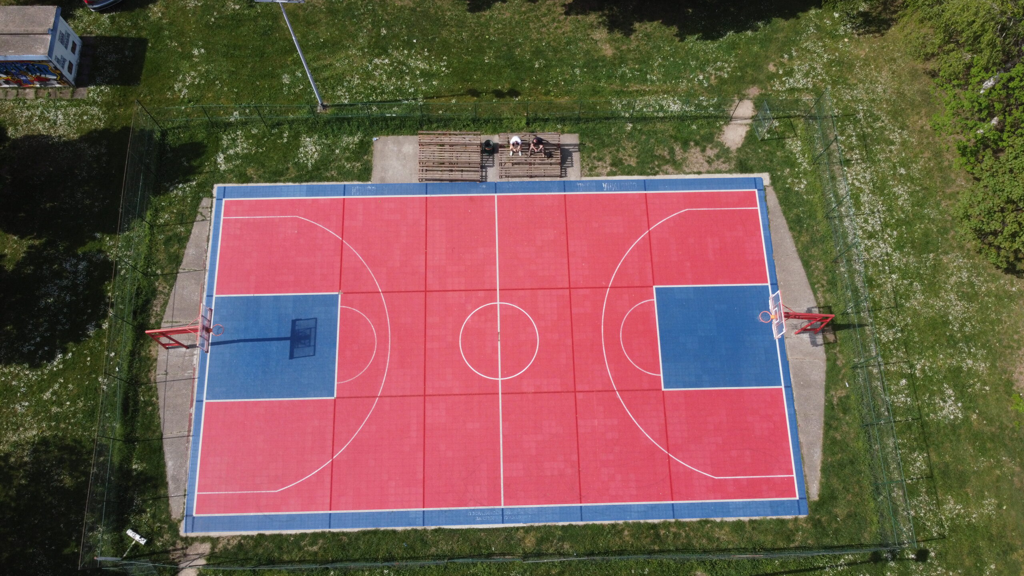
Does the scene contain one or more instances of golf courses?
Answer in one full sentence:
No, no golf course is visible in the view.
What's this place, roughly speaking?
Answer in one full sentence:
This image shows a sports ground.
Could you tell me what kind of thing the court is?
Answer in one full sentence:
From above, the court can be identified as a basketball court.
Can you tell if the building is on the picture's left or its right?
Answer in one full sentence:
It is on the left.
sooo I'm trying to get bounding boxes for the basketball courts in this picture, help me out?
[184,177,809,532]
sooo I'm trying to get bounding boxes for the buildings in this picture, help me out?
[0,3,83,87]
